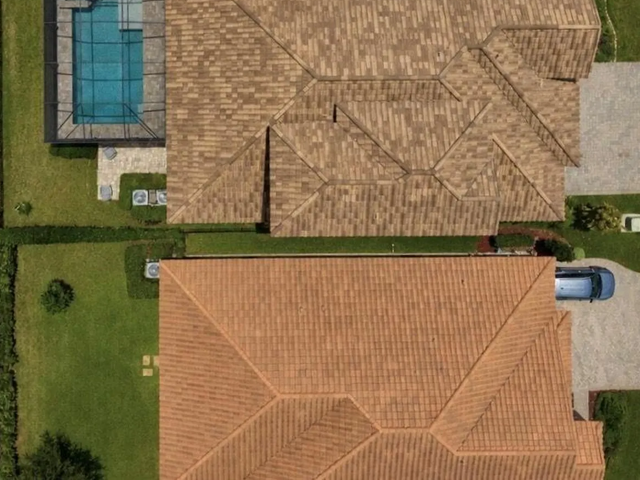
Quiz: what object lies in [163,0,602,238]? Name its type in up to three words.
house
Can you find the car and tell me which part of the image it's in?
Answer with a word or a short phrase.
right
